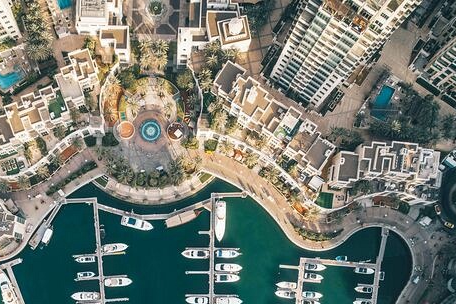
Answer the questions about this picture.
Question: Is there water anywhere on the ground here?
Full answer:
Yes, some water is visible.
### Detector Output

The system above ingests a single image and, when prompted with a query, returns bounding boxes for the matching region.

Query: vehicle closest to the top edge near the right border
[441,153,456,169]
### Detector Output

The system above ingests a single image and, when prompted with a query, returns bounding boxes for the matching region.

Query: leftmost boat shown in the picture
[0,270,16,304]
